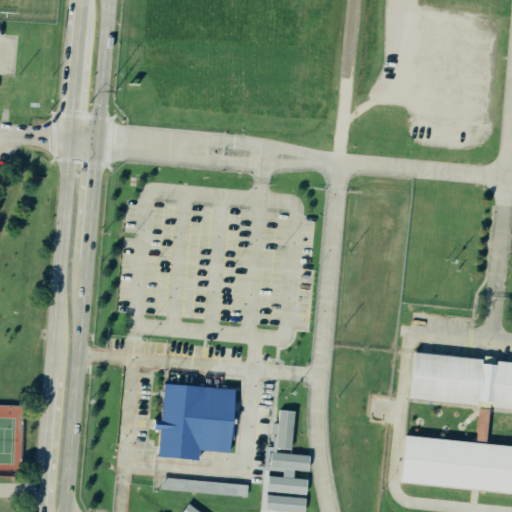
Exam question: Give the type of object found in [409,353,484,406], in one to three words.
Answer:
building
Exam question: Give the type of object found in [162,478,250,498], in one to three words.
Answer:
shed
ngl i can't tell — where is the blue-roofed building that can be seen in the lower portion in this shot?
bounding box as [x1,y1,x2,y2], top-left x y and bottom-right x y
[154,372,242,460]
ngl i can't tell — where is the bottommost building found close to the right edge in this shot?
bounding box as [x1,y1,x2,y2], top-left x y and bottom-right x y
[402,436,512,493]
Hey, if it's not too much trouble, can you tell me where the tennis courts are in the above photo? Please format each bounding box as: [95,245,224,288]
[0,406,24,478]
